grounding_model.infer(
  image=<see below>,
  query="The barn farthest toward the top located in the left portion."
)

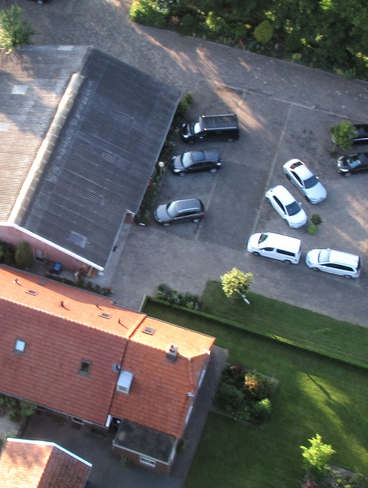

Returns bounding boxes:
[0,46,179,279]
